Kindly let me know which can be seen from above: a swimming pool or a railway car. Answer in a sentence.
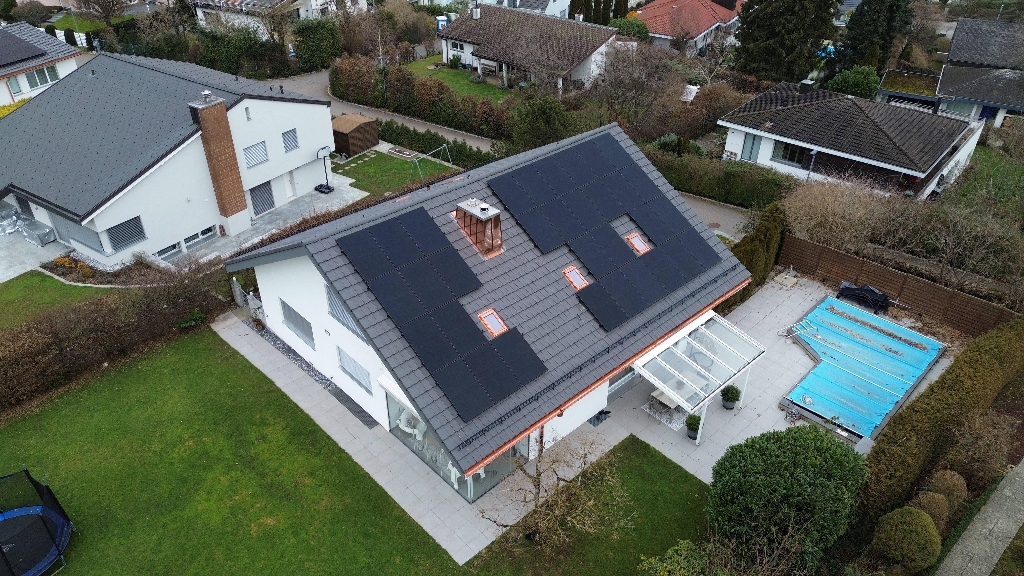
There is a swimming pool in the scene.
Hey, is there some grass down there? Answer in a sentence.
Yes, there's grass in this view.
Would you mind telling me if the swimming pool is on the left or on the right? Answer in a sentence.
It is on the right.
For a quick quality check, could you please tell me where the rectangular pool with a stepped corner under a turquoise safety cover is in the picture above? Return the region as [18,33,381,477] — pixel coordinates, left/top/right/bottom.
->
[778,294,956,454]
